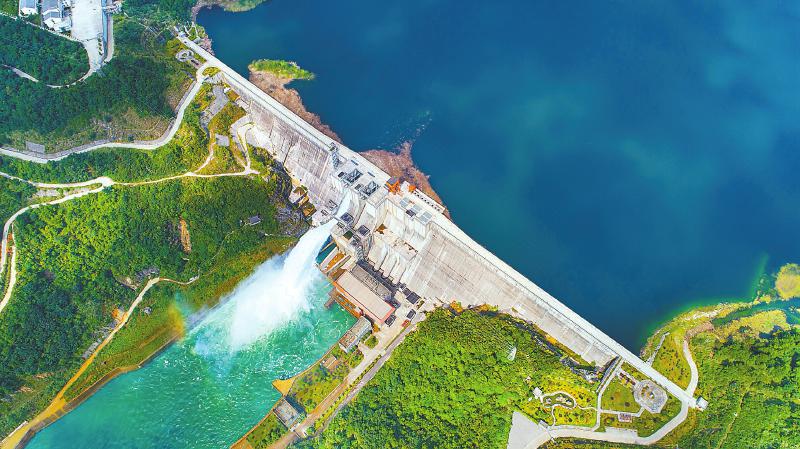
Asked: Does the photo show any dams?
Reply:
Yes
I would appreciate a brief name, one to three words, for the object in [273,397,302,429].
building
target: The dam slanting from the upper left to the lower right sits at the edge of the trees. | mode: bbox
[173,28,696,412]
